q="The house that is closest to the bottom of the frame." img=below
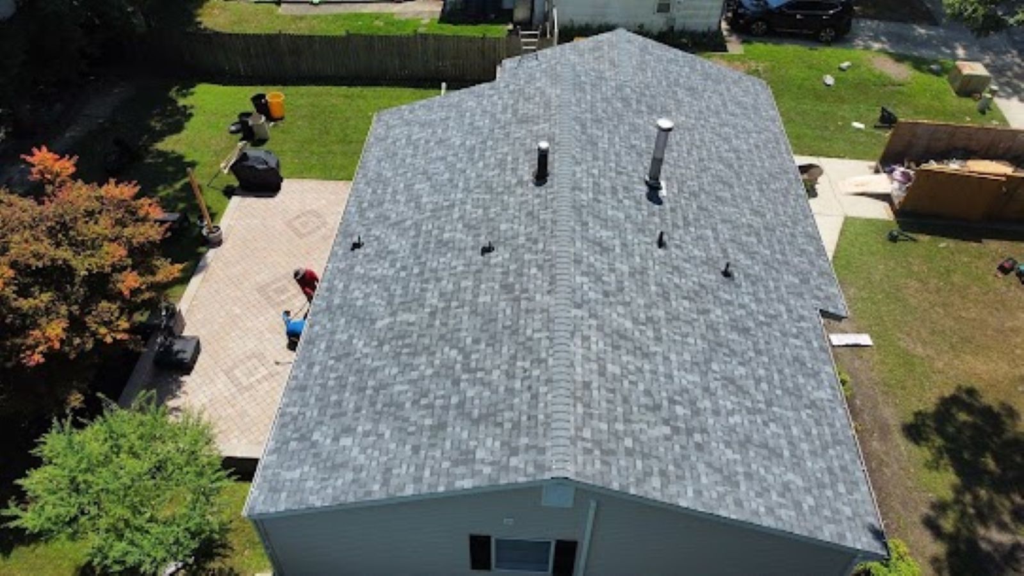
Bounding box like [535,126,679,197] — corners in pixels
[240,26,894,576]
